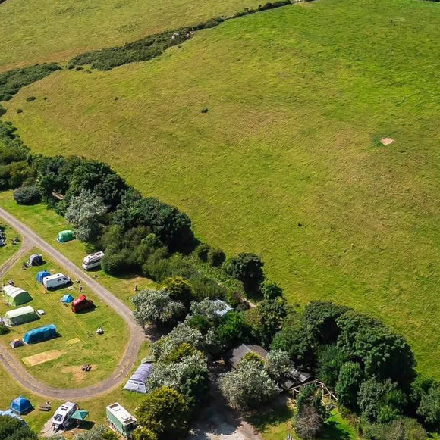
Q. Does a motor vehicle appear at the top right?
No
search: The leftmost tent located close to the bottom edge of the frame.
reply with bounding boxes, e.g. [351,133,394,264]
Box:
[10,398,33,421]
